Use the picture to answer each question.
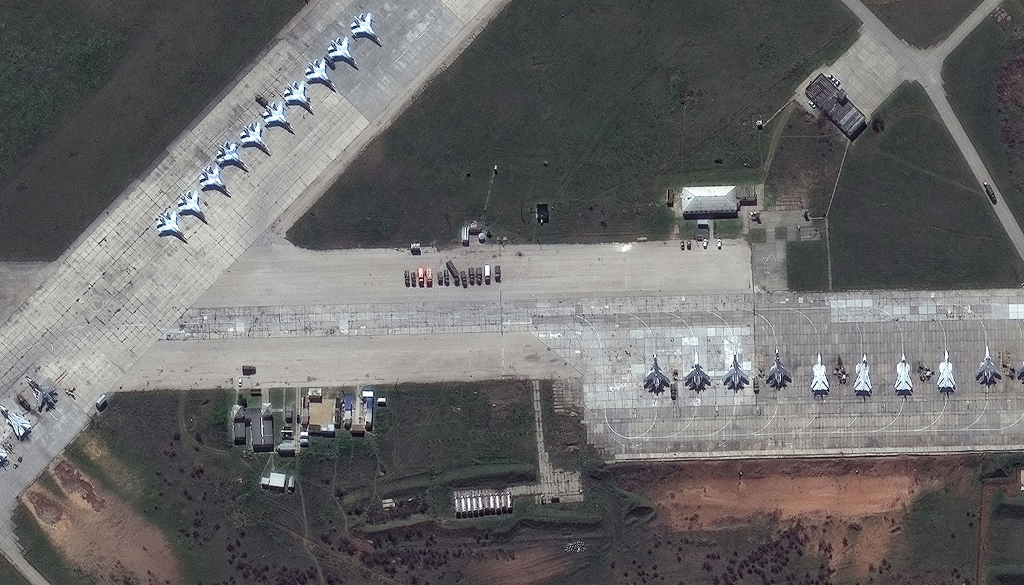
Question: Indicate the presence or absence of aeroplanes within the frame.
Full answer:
Yes, an aeroplane is visible in the scene.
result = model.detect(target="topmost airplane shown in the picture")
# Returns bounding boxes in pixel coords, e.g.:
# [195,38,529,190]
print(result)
[349,11,381,42]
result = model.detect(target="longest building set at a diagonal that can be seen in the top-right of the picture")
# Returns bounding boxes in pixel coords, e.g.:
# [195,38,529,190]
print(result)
[804,74,866,136]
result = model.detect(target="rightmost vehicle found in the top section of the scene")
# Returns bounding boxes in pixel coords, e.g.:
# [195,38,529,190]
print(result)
[983,181,997,203]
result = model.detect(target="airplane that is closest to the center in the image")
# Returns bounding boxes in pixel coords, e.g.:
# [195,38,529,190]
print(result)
[643,354,670,391]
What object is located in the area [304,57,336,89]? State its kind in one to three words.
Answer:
airplane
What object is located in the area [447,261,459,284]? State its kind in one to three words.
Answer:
vehicle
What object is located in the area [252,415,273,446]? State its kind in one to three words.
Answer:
building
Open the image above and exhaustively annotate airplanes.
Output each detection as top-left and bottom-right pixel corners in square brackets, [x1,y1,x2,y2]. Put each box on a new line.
[974,349,1001,385]
[854,357,873,393]
[349,11,381,42]
[938,352,957,388]
[28,379,61,412]
[175,192,208,223]
[199,165,231,196]
[643,354,670,391]
[239,124,271,155]
[684,354,711,391]
[216,139,249,171]
[282,80,314,111]
[895,355,914,392]
[722,353,749,390]
[304,57,336,89]
[0,404,29,435]
[262,100,294,131]
[155,210,188,242]
[765,351,792,387]
[811,355,830,391]
[326,35,361,68]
